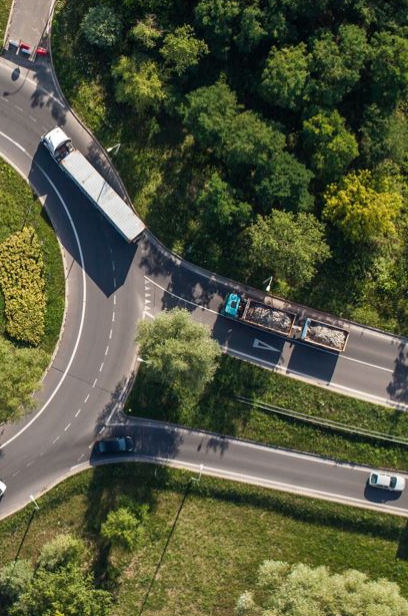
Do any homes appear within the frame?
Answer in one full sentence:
No, this view has no home in it.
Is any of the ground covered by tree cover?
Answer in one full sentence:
Yes, there's tree cover in this view.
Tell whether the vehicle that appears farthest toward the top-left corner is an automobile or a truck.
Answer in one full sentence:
I'd identify the vehicle that appears farthest toward the top-left corner as a truck.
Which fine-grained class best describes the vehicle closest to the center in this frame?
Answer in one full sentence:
I'd say the vehicle closest to the center is a truck.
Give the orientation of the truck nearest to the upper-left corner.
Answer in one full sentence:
The truck nearest to the upper-left corner is oriented diagonally.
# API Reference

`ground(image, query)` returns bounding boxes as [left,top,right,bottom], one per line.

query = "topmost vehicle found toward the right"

[221,293,350,352]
